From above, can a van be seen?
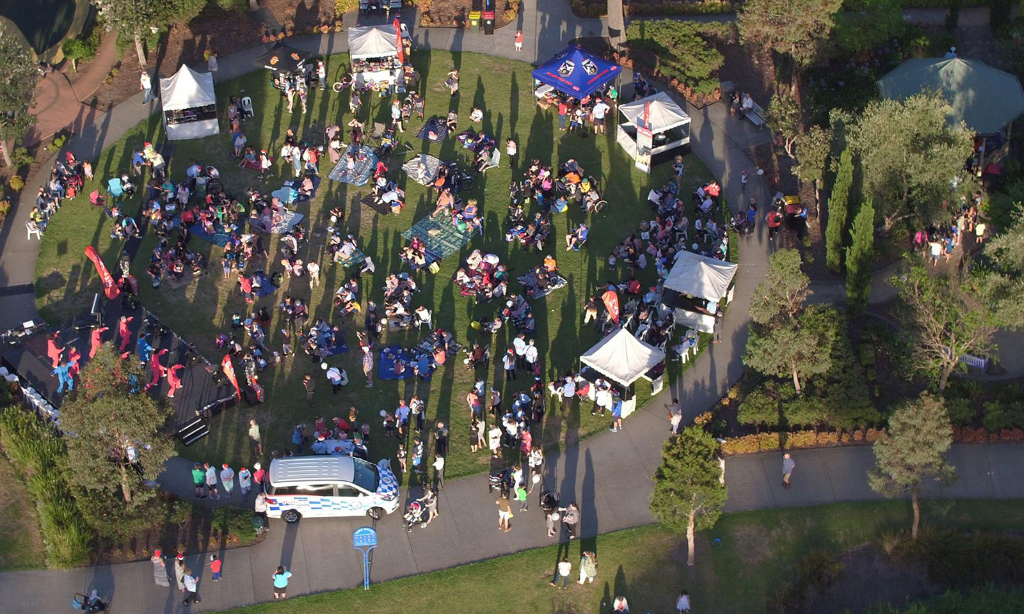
Yes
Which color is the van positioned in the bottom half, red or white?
white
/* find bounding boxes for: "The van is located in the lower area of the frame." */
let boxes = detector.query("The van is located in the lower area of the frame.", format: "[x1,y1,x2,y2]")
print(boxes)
[260,456,405,525]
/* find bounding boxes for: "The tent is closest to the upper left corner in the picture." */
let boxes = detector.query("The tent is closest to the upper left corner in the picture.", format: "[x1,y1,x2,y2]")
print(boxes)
[158,67,222,140]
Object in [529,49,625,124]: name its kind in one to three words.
gazebo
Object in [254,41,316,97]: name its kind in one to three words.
gazebo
